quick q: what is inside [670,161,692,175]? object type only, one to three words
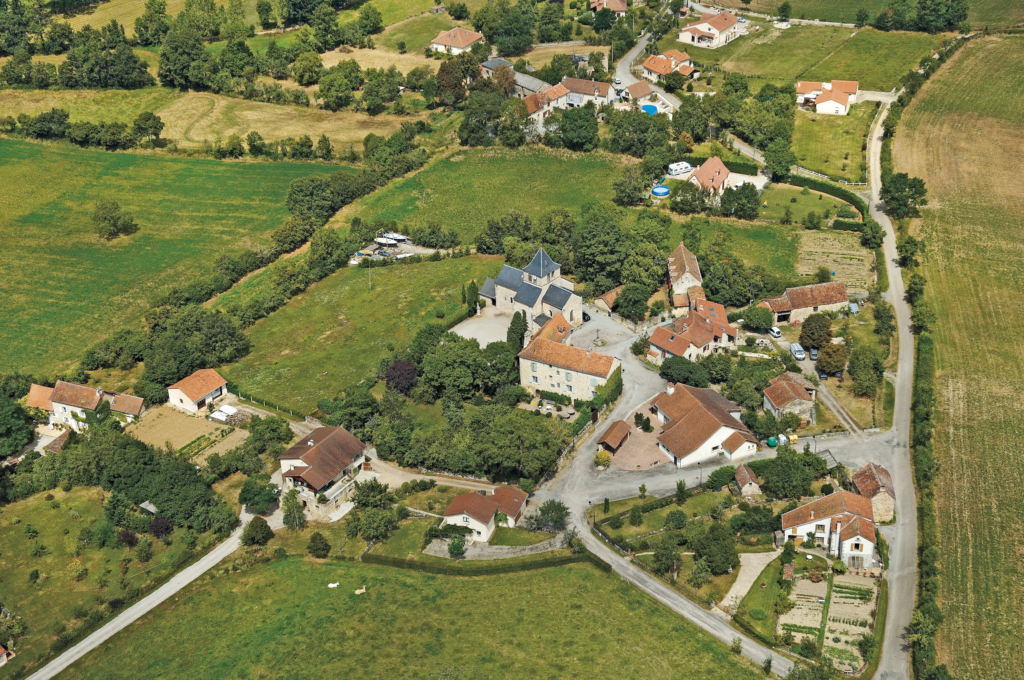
camper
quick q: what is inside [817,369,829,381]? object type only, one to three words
vehicle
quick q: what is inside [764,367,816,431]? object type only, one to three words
barn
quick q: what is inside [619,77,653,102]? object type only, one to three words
building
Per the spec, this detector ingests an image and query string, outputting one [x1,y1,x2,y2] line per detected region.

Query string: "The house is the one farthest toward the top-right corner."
[795,77,859,116]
